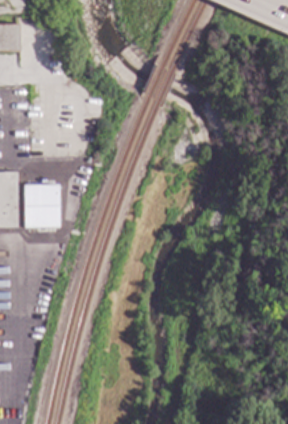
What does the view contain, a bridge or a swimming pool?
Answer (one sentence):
The one in the frame is a bridge.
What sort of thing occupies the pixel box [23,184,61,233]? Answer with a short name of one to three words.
shed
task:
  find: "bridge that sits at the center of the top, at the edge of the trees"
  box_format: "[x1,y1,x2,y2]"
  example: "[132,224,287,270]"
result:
[142,61,181,107]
